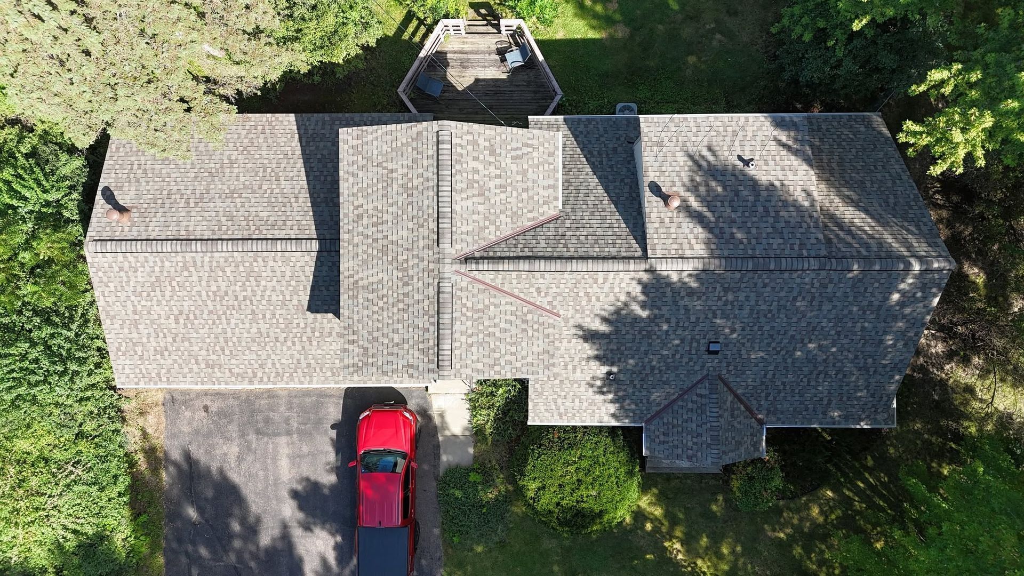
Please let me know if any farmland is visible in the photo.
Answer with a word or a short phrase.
No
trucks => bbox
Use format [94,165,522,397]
[349,400,423,576]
